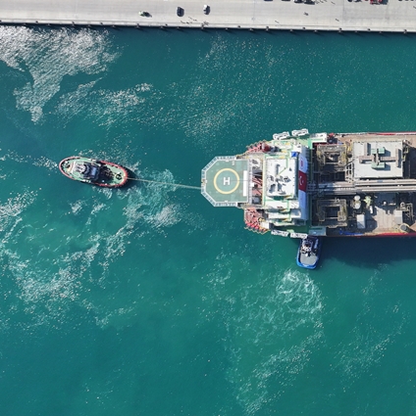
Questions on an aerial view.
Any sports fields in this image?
No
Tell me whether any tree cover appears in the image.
No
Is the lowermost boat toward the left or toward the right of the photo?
right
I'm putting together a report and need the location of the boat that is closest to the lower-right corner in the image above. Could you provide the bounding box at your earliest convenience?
[294,237,322,274]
